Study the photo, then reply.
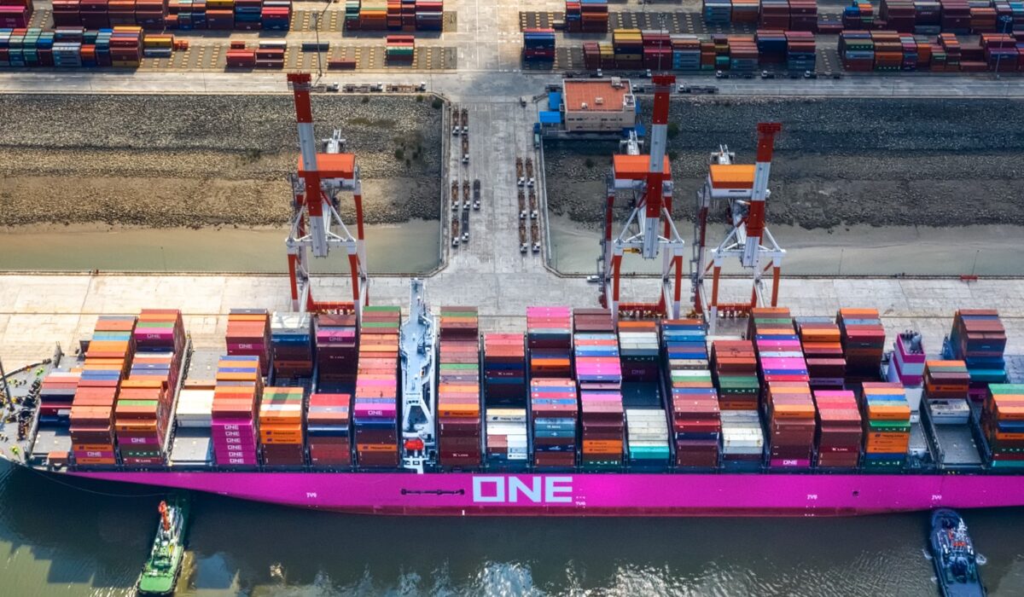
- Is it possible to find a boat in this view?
Yes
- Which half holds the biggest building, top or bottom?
top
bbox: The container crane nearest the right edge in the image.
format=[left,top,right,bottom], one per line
[685,121,785,336]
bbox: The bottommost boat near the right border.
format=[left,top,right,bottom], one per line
[924,508,987,597]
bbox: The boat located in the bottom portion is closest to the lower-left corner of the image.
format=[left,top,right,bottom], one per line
[137,499,191,597]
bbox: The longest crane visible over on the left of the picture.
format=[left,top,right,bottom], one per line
[286,75,368,335]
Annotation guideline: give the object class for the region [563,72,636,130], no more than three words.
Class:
building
